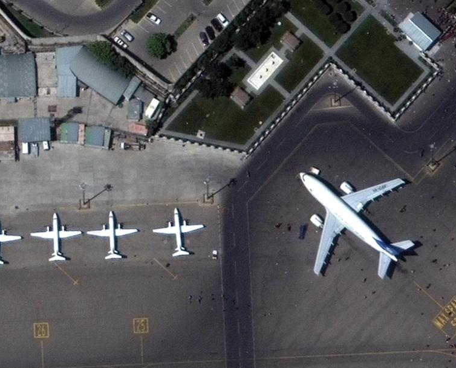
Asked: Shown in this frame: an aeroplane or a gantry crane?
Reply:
aeroplane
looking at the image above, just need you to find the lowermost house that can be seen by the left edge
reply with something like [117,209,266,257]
[0,142,15,163]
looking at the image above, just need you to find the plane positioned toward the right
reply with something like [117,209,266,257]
[299,173,414,277]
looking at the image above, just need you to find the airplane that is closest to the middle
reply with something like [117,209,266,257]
[153,207,204,254]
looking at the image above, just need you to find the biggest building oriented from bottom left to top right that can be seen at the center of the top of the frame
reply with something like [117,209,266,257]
[247,51,284,92]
